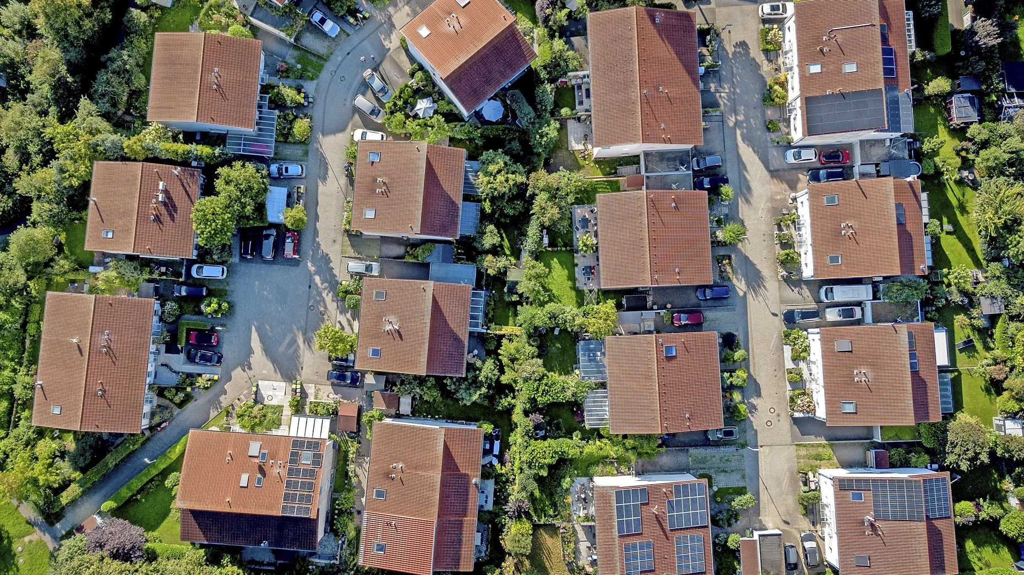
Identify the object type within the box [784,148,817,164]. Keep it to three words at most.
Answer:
car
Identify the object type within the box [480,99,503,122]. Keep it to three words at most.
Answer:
umbrella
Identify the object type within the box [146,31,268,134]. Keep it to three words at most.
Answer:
house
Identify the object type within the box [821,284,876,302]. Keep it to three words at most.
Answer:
vehicle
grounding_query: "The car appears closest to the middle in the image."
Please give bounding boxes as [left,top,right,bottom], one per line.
[346,261,381,277]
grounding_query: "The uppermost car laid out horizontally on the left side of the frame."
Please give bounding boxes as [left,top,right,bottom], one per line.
[355,127,385,141]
